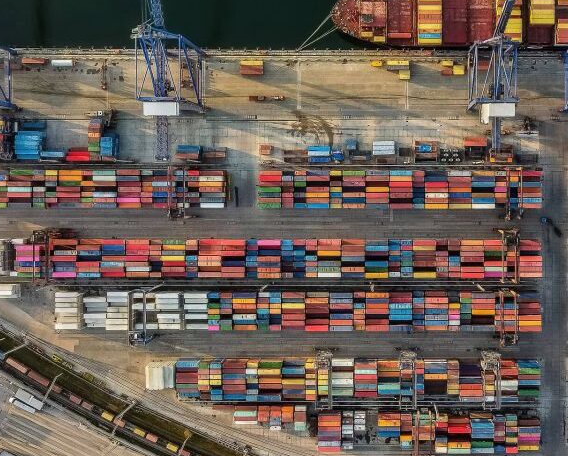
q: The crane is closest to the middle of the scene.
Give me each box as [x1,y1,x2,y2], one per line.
[166,165,200,220]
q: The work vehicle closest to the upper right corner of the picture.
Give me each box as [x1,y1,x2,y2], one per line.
[524,119,537,141]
